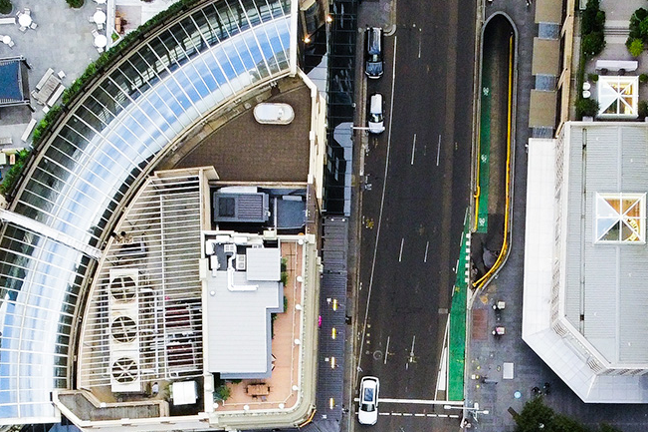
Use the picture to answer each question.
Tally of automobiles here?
three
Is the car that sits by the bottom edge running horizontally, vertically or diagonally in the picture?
vertically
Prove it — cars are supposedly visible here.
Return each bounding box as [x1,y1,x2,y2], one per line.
[362,27,385,80]
[357,376,379,426]
[365,92,386,136]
